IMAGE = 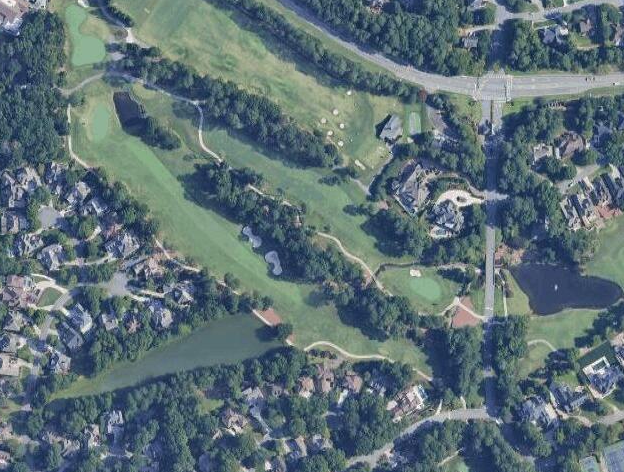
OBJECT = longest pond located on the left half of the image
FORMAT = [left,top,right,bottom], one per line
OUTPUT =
[67,313,288,399]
